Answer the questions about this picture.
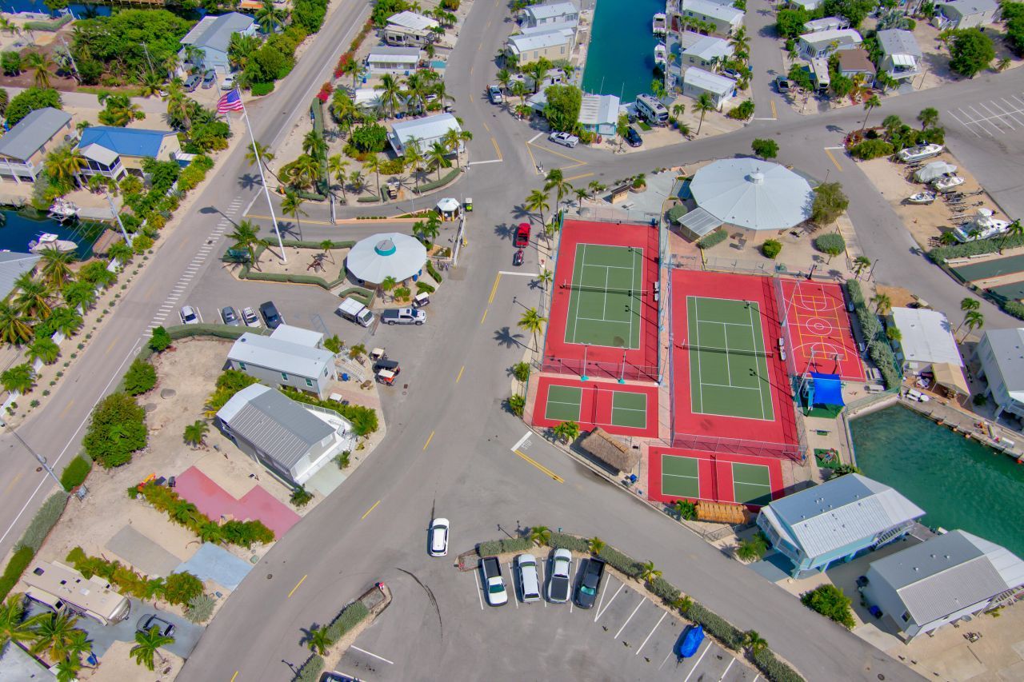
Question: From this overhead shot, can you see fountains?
No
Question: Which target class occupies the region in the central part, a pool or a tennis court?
tennis court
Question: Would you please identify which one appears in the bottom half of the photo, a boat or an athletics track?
boat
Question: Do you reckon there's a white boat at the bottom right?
No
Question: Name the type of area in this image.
residential area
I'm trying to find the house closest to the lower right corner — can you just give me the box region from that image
[863,517,1024,642]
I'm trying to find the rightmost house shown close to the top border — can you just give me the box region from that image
[932,0,999,34]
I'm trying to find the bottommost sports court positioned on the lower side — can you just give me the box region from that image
[648,446,783,514]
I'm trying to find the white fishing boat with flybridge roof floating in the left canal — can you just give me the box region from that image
[28,231,78,254]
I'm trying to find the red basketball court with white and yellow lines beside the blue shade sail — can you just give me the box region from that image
[774,277,865,381]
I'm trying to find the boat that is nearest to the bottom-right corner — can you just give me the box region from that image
[678,622,707,663]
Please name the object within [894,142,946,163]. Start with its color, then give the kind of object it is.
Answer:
white boat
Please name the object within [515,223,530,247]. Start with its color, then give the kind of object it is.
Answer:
red vehicle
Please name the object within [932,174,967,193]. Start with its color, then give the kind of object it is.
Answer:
white boat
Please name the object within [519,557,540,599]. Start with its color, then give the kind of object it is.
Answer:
white car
